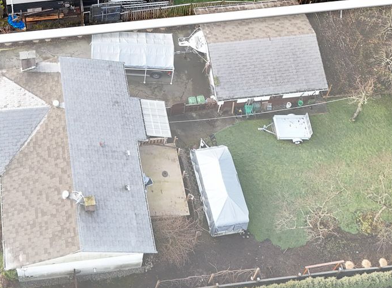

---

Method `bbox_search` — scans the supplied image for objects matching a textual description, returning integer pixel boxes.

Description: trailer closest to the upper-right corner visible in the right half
[246,111,318,145]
